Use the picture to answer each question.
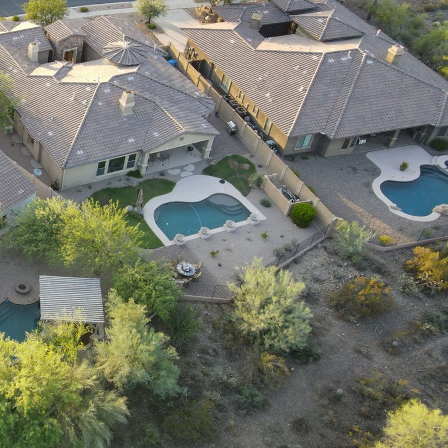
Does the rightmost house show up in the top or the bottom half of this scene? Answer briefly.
top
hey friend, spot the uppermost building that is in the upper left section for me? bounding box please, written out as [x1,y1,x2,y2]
[0,13,222,185]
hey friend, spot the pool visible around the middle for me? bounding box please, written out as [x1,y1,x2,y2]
[144,174,265,247]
